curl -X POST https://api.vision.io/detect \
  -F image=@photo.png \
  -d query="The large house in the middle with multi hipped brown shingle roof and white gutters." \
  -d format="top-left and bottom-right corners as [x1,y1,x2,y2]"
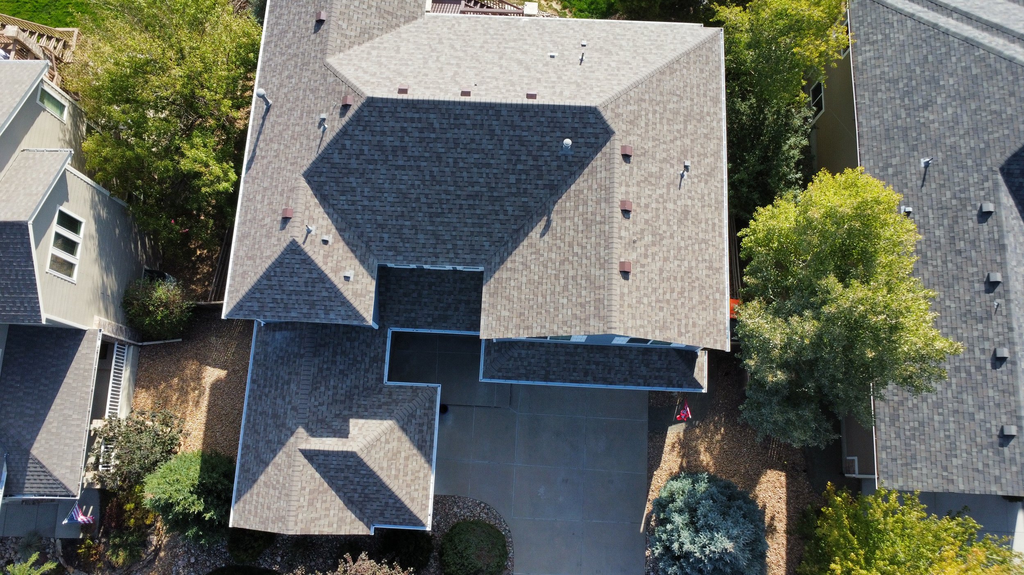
[220,0,731,535]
